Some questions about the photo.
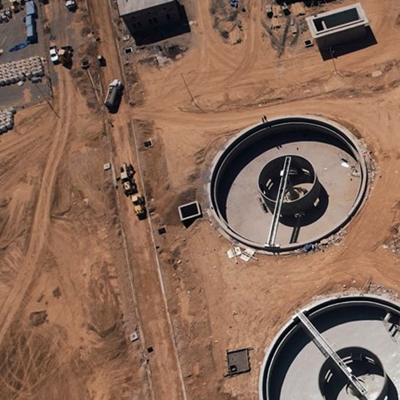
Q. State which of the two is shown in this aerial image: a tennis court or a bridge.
bridge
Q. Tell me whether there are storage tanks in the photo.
Yes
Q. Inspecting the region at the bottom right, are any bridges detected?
Yes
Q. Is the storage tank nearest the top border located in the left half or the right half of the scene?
right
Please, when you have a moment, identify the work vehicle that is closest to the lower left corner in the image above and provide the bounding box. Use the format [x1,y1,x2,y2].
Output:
[128,191,147,220]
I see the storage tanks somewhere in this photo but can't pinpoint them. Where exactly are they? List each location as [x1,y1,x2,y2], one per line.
[207,116,371,253]
[255,294,400,400]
